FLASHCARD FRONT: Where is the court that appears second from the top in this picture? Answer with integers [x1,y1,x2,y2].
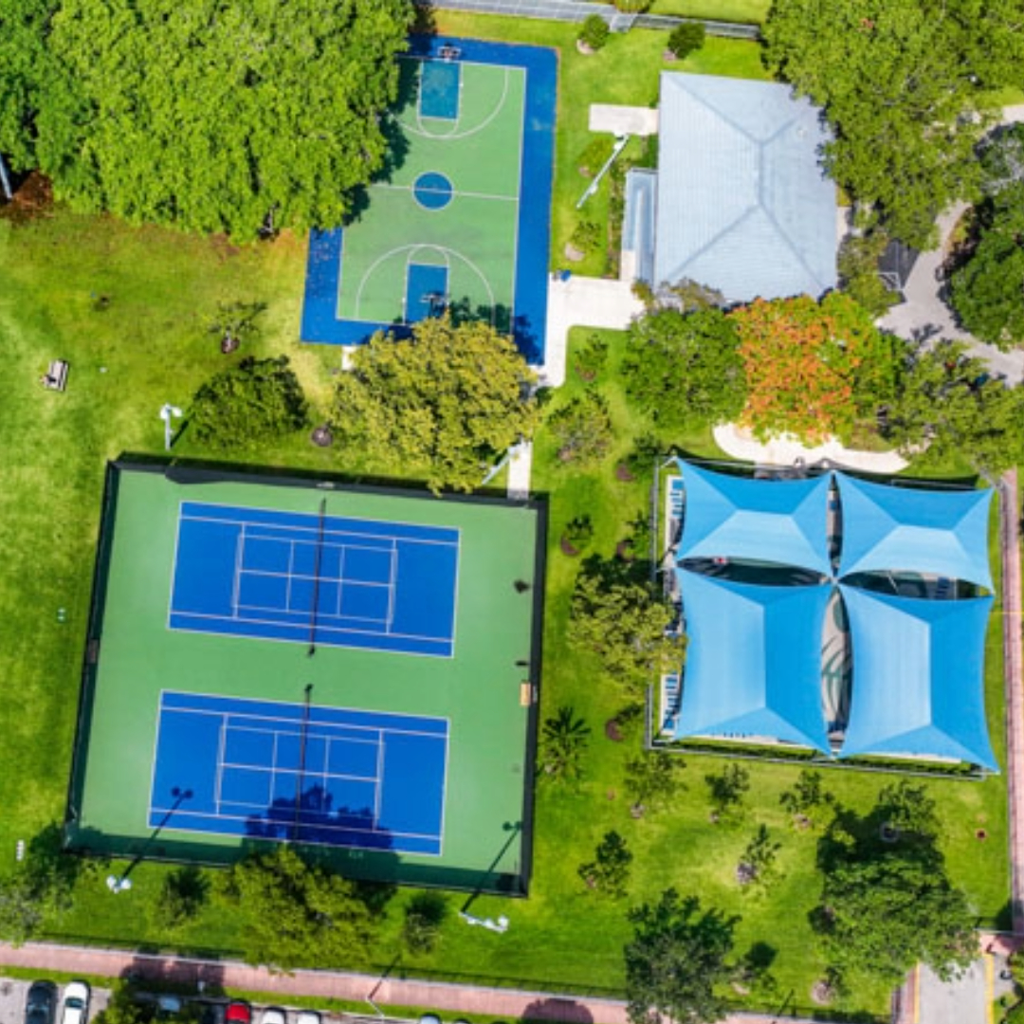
[167,501,460,657]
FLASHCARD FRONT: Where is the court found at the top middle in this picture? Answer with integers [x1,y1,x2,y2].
[301,25,558,365]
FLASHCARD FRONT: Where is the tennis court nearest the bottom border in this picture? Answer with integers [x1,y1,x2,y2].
[148,690,449,855]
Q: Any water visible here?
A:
No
